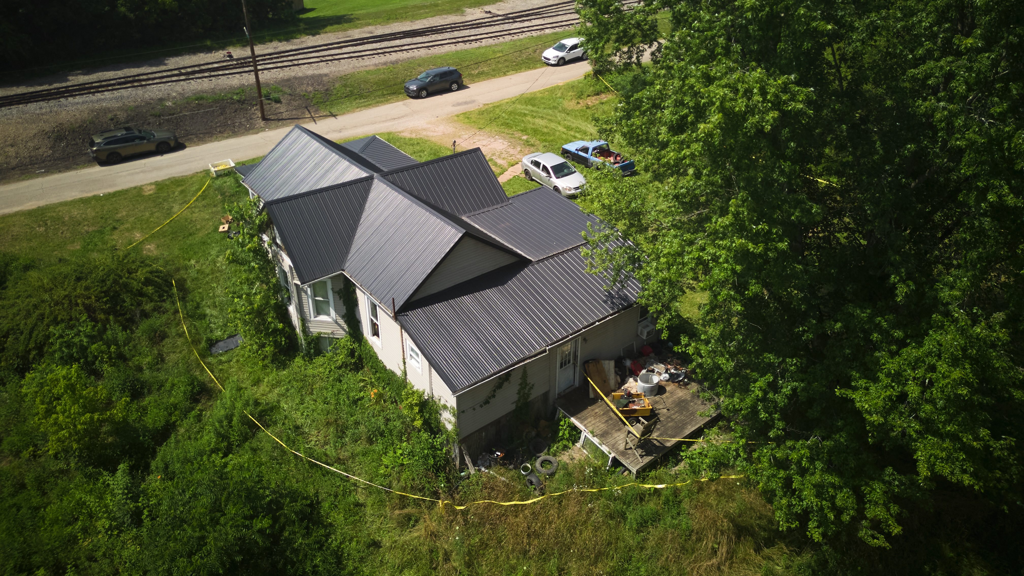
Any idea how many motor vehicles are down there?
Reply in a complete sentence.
Looking from above, you can make out 5 motor vehicles.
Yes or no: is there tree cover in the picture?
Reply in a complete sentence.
Yes, some tree cover is visible.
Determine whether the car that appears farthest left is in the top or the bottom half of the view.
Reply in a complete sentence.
You can find the car that appears farthest left in the top half.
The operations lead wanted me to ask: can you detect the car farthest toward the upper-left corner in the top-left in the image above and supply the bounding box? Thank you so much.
[82,125,177,165]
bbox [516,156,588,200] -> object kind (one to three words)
car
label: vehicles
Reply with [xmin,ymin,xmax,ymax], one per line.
[562,142,640,180]
[545,33,593,62]
[401,61,464,97]
[516,156,588,200]
[82,125,177,165]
